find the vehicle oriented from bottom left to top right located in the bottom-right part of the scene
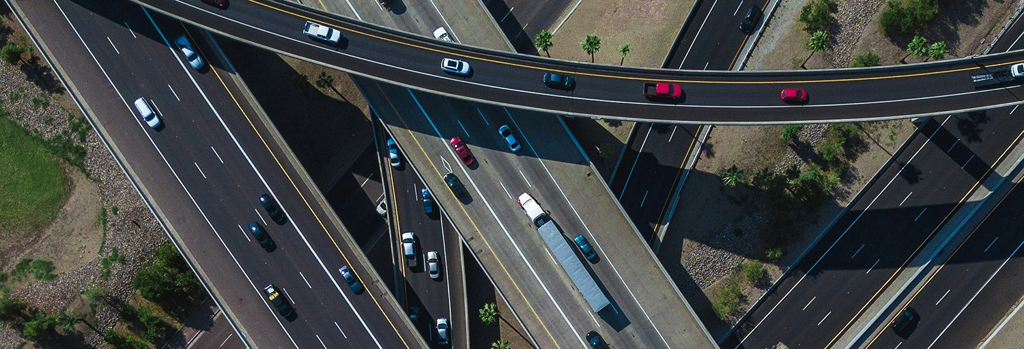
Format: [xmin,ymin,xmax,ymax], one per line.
[888,302,915,331]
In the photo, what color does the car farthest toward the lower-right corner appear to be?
black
